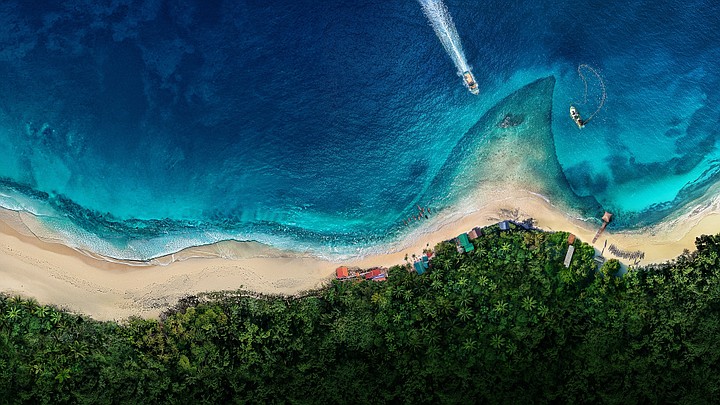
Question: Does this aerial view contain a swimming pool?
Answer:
No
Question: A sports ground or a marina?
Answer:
marina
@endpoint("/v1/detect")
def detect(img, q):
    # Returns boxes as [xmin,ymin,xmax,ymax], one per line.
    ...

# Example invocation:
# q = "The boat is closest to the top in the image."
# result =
[463,70,478,94]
